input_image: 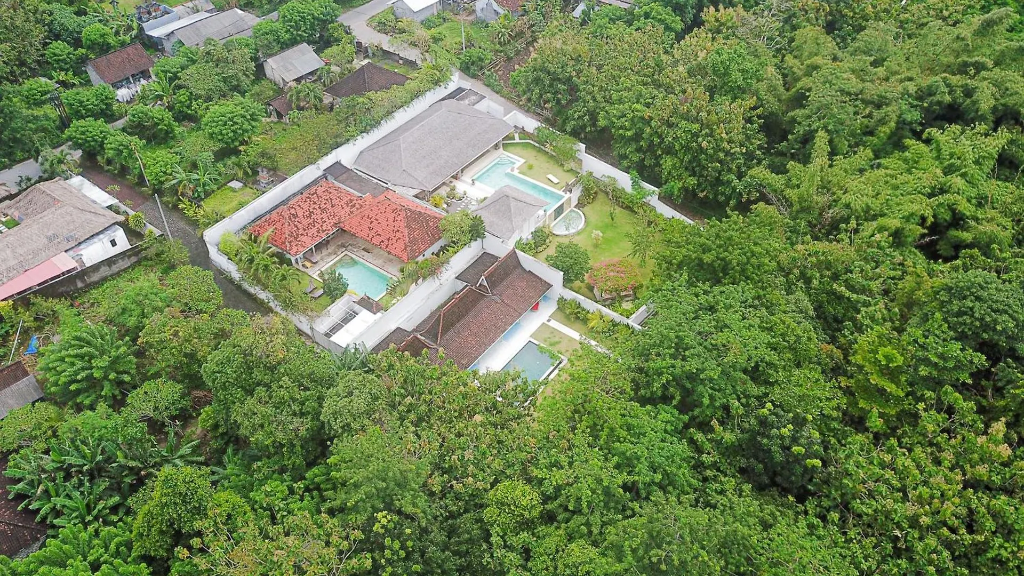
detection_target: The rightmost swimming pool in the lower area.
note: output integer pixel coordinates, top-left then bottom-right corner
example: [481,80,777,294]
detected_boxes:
[491,336,576,399]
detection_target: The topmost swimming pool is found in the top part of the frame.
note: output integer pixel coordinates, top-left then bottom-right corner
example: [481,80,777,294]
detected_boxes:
[465,152,571,215]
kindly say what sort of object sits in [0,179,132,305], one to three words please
house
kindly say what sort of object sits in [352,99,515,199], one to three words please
house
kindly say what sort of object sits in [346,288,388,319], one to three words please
building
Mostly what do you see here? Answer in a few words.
trees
